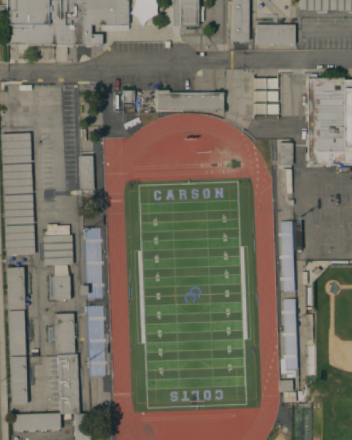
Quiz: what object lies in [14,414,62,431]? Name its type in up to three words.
building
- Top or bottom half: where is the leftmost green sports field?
bottom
